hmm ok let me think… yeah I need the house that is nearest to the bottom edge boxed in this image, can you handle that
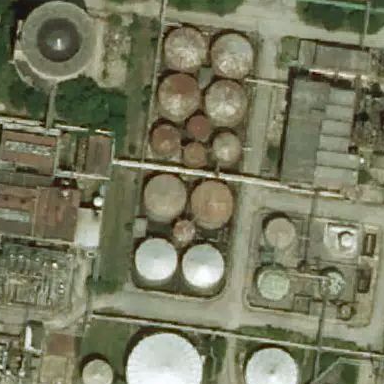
[26,324,46,356]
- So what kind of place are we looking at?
industrial area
